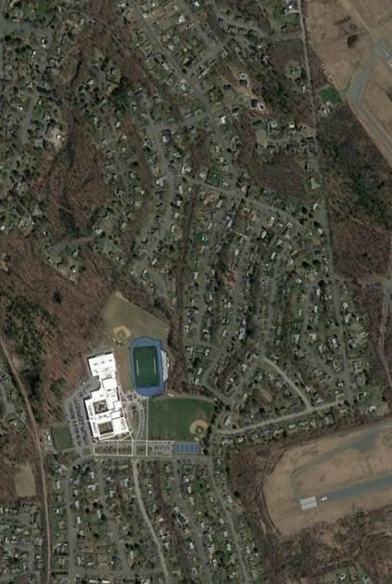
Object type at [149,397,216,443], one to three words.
baseball field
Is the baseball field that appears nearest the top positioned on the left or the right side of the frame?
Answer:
left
